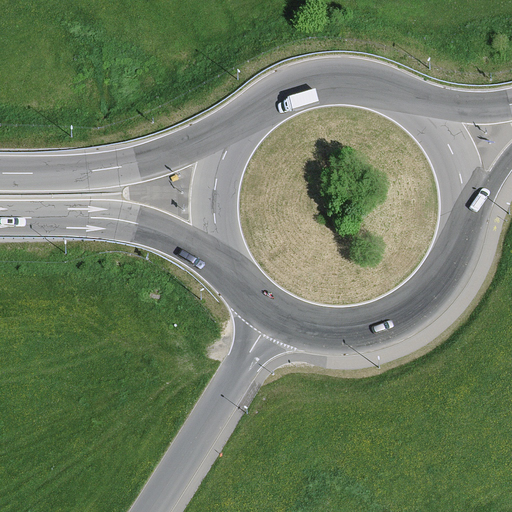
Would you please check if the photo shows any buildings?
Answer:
No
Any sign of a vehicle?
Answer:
Yes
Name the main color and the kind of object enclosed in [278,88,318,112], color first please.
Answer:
white truck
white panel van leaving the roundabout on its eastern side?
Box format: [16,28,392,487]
[470,188,491,213]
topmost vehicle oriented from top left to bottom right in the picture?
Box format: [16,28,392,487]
[178,250,205,270]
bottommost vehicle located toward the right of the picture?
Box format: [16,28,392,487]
[372,320,394,334]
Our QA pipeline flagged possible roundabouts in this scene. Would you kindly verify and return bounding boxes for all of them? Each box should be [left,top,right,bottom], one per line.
[134,104,512,353]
